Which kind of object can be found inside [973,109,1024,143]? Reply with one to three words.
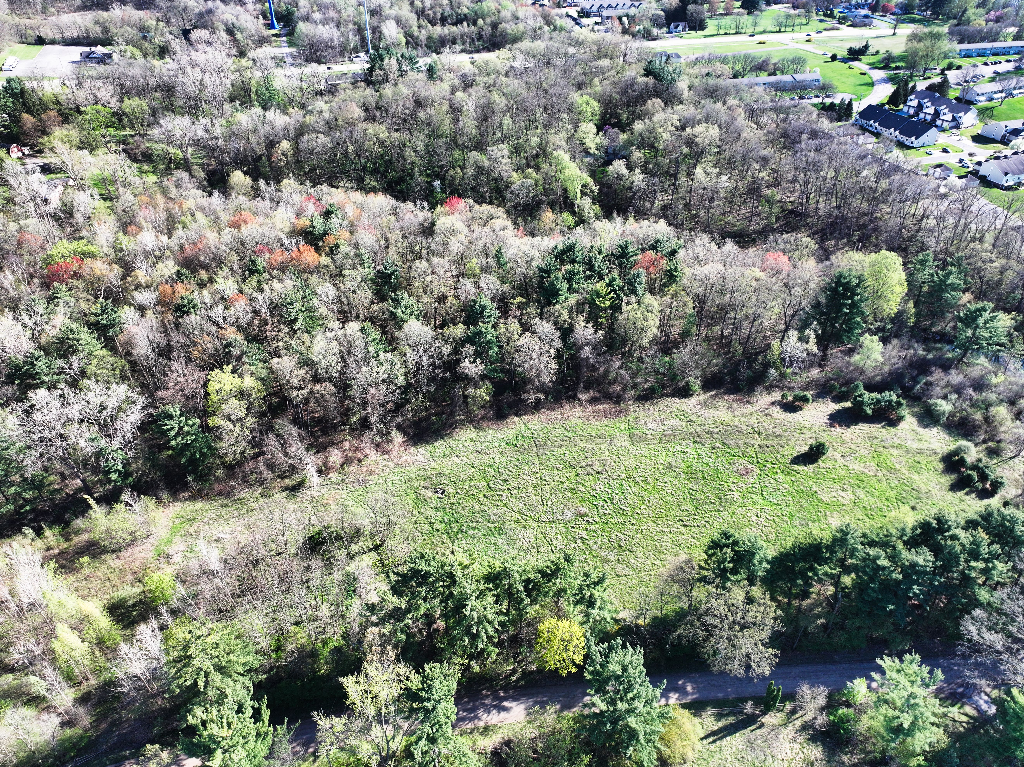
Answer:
house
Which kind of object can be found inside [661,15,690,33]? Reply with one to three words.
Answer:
house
